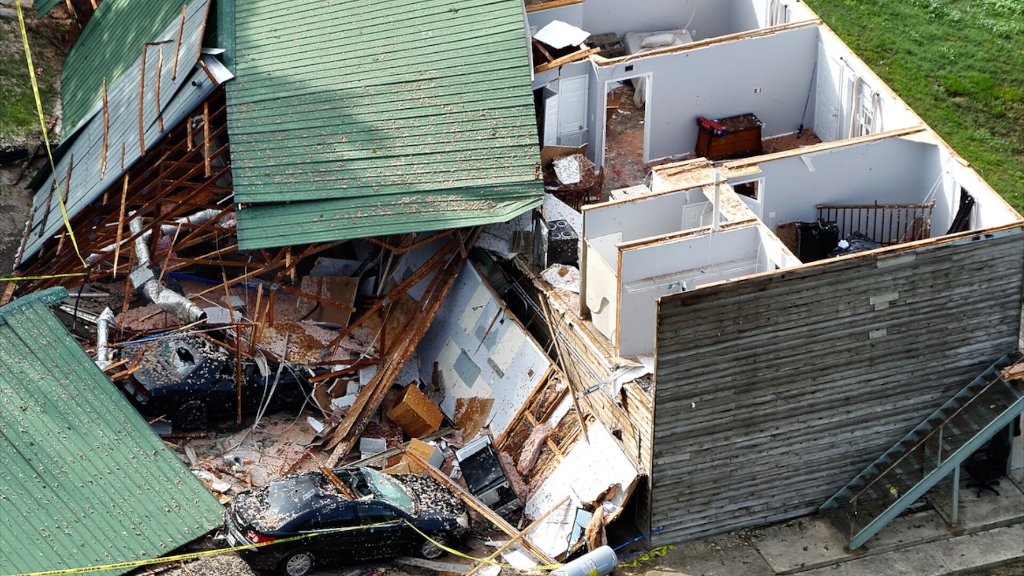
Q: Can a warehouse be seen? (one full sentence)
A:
No, I can see no warehouse in this picture.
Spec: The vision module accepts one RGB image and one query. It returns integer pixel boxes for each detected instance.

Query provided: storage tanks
[535,544,614,576]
